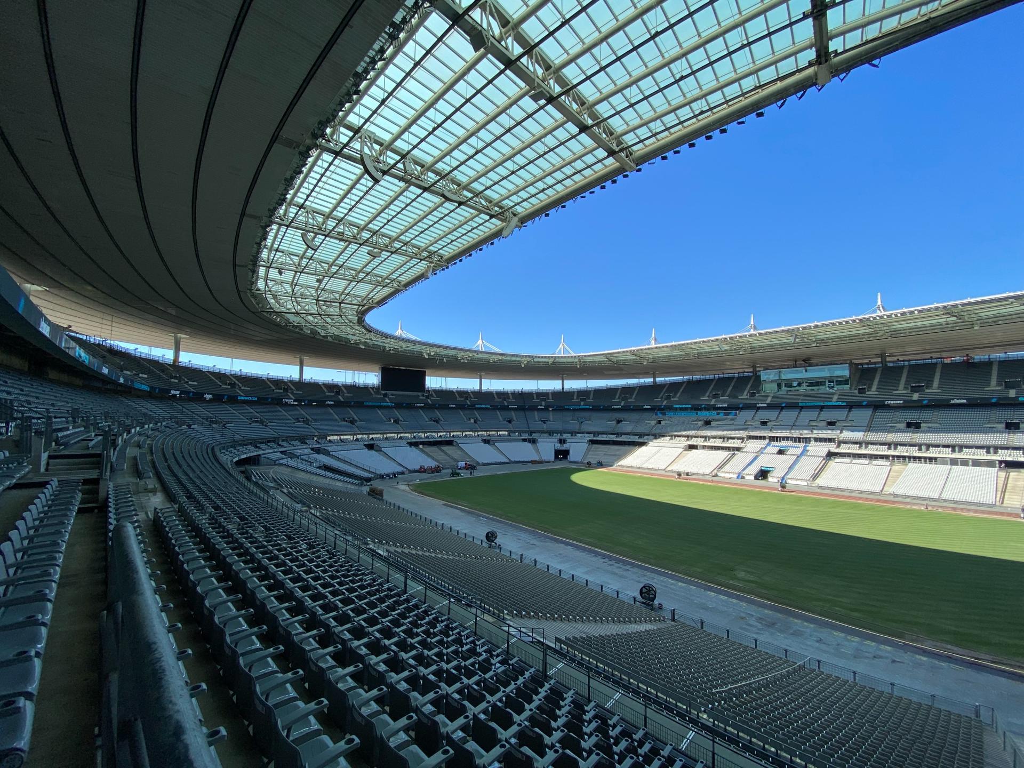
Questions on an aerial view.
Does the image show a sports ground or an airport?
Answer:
sports ground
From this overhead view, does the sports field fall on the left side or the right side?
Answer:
right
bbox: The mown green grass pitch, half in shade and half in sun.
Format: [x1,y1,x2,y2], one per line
[411,467,1024,673]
